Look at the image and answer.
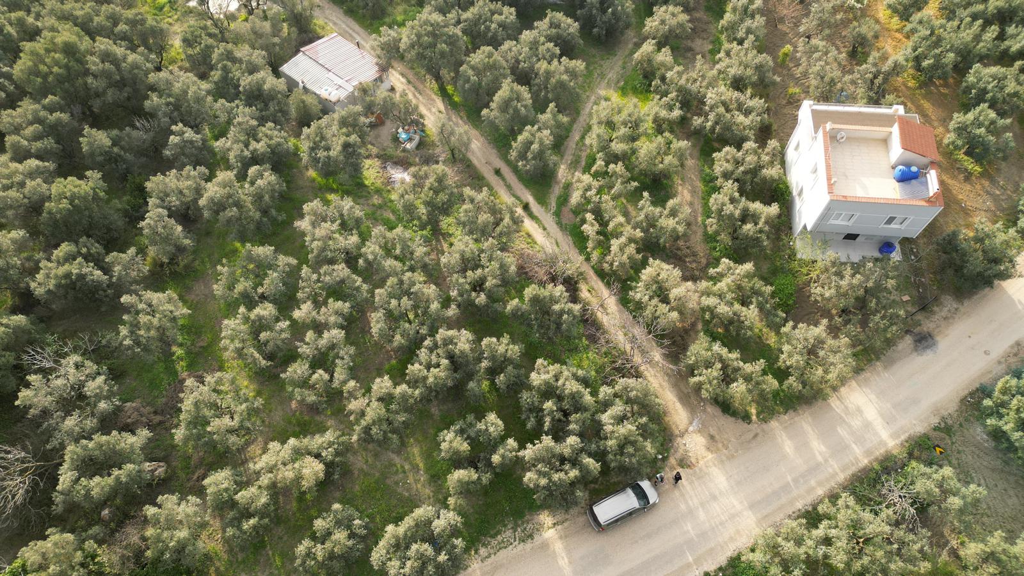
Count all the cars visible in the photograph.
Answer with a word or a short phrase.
1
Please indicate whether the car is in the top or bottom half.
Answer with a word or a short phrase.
bottom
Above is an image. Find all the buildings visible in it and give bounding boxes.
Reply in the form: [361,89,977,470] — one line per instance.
[781,100,944,270]
[283,25,387,121]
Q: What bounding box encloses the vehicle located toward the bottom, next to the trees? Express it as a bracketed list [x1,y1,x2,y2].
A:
[586,484,660,533]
